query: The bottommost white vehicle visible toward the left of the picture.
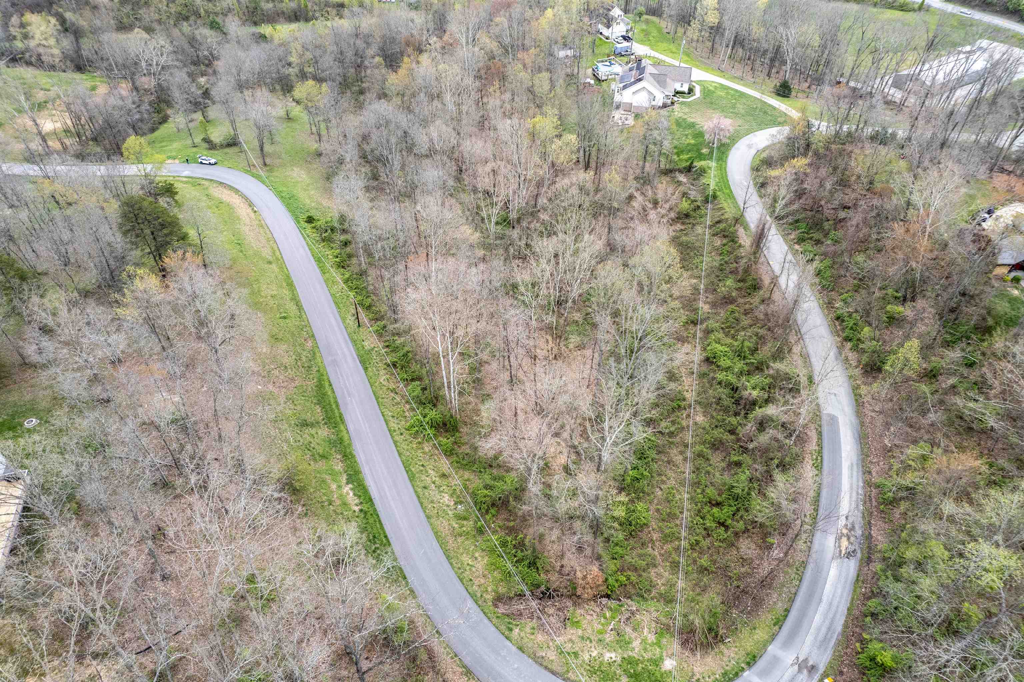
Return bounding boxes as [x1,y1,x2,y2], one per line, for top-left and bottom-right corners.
[191,150,218,165]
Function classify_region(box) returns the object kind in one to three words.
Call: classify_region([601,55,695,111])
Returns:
house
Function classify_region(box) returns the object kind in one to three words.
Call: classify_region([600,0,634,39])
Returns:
house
